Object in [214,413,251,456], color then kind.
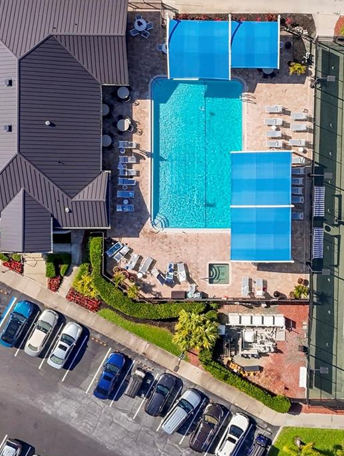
white car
